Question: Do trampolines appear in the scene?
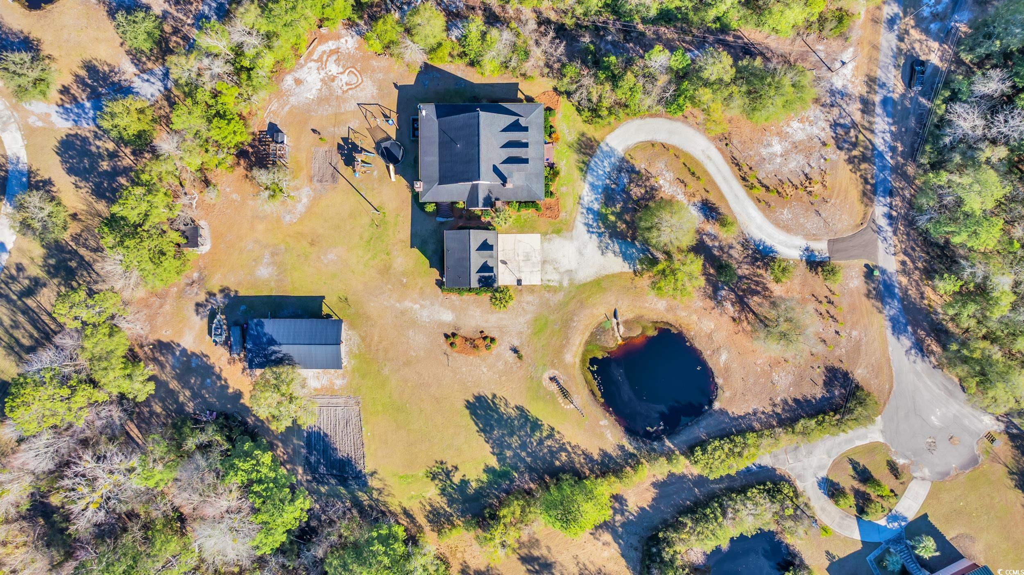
Yes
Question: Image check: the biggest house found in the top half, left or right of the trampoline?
to its right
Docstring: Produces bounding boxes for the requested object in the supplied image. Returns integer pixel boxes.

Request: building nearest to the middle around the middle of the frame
[444,228,498,288]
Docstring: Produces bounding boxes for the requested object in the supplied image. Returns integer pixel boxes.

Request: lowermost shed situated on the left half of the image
[242,319,346,369]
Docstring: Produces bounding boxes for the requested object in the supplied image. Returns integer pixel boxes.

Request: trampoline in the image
[374,134,402,164]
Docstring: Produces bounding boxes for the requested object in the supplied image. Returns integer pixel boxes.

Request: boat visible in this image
[206,315,222,348]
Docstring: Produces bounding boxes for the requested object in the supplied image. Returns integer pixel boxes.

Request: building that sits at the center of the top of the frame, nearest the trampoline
[409,102,545,210]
